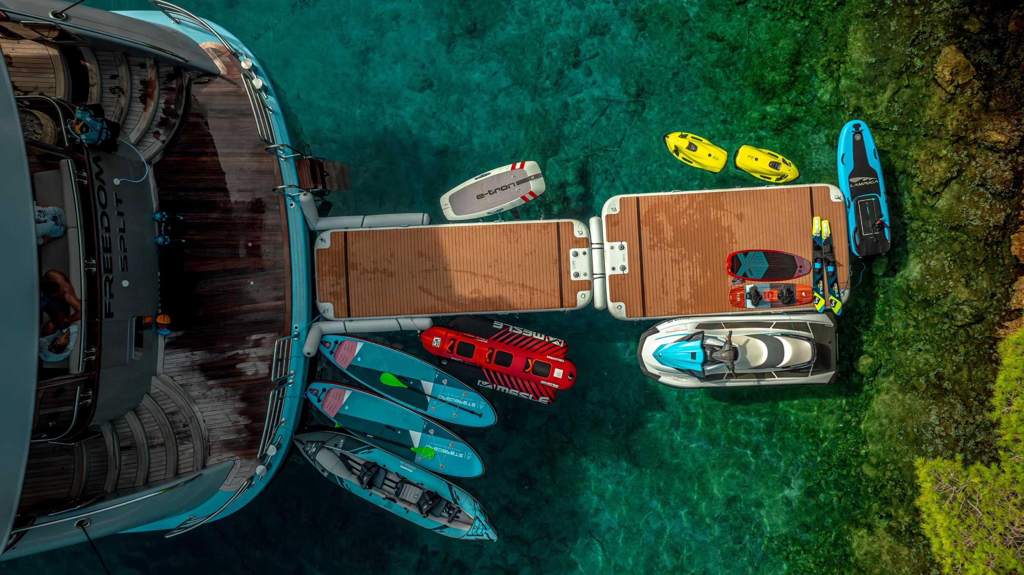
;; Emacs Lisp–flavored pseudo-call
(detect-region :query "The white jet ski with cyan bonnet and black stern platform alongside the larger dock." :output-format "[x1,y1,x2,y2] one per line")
[632,311,839,388]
